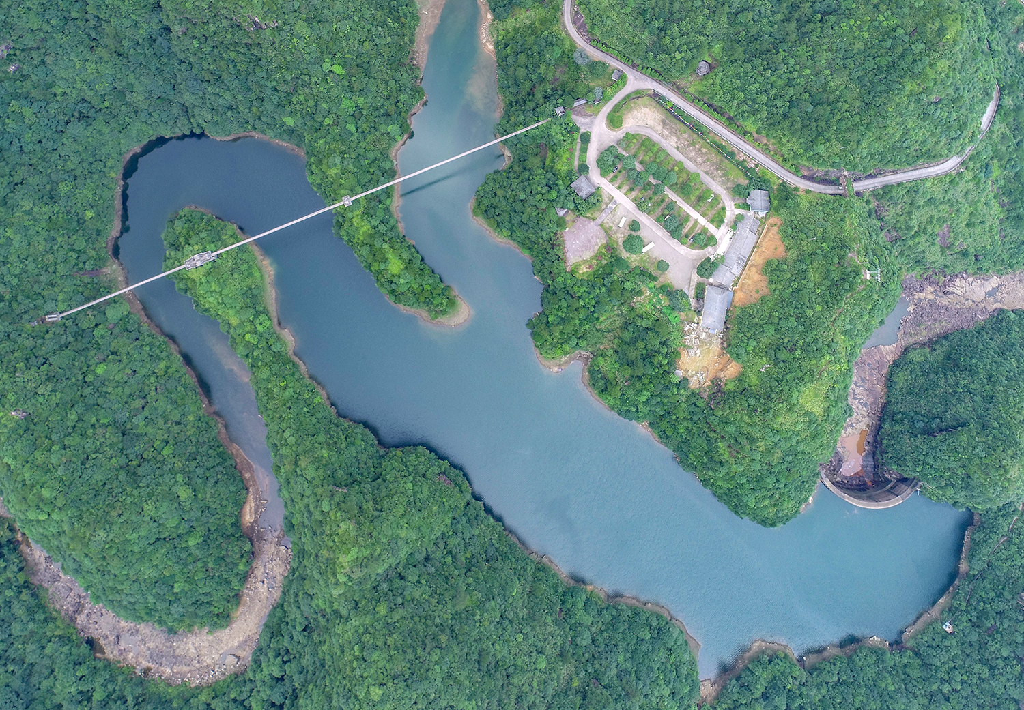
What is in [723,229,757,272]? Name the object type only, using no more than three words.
building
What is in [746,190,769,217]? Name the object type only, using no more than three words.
house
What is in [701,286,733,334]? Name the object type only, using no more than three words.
building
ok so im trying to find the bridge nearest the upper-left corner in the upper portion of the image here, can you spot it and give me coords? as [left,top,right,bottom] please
[47,110,555,319]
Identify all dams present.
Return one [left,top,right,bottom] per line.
[808,463,920,509]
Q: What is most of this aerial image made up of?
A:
trees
